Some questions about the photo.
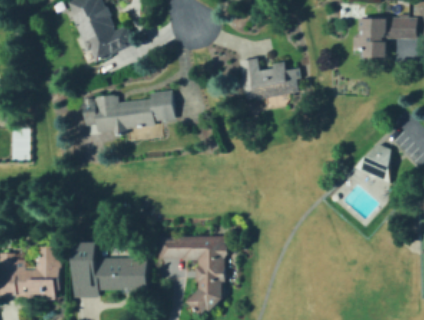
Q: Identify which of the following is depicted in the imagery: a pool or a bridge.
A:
pool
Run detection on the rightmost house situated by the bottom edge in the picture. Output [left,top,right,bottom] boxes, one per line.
[158,236,228,312]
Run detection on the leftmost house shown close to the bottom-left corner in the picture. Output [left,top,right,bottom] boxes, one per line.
[0,244,55,300]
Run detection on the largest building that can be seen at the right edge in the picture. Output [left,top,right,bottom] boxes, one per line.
[354,16,418,59]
